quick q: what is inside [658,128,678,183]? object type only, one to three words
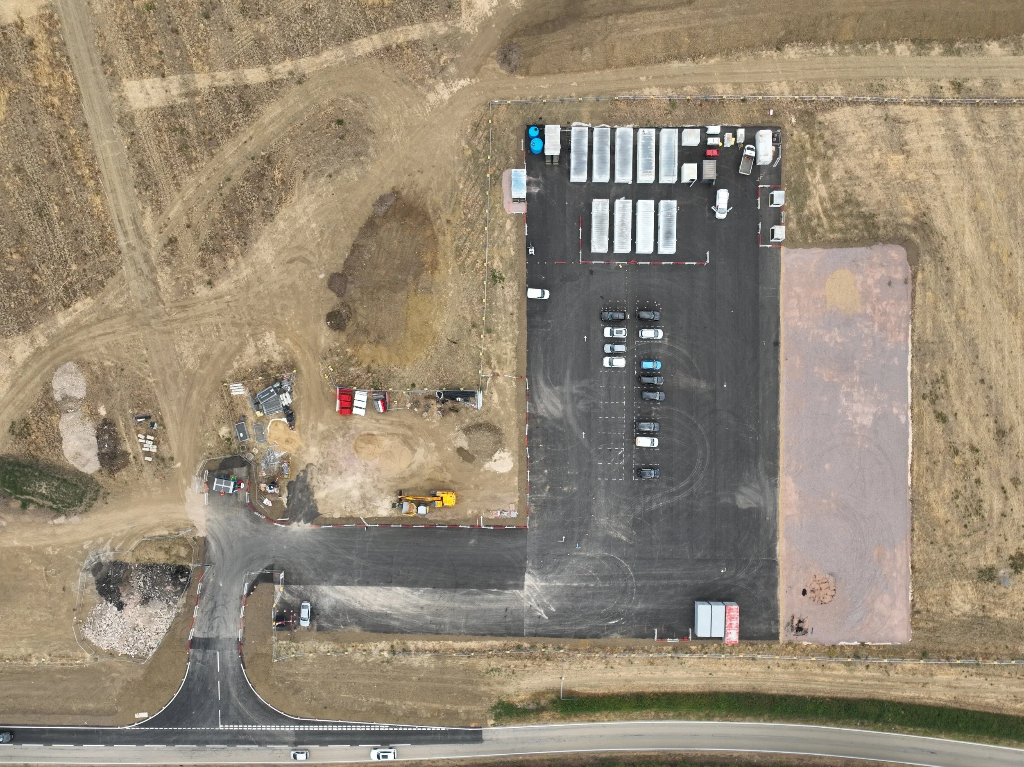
building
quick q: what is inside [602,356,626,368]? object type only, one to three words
vehicle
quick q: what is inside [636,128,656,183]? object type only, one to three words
building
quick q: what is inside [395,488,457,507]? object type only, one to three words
work vehicle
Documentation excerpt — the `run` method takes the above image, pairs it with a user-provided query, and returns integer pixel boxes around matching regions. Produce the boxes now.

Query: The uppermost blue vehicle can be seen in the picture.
[640,359,662,371]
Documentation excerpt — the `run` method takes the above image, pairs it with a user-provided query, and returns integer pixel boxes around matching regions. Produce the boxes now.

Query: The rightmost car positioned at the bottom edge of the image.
[370,747,396,762]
